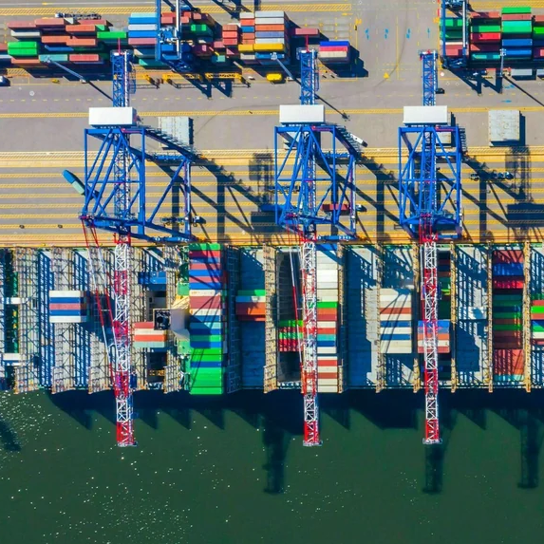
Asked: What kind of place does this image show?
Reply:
port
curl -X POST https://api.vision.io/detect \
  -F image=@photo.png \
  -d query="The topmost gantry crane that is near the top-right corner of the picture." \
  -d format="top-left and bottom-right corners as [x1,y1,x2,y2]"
[441,0,473,65]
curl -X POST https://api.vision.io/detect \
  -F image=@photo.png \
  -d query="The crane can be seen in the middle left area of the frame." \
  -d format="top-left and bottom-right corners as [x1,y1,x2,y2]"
[73,49,210,449]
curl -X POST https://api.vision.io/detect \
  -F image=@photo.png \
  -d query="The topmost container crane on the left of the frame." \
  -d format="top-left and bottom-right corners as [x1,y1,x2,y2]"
[154,0,202,63]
